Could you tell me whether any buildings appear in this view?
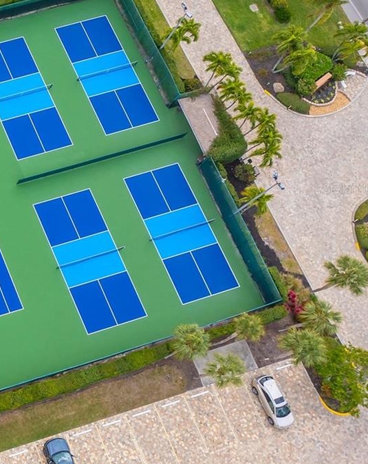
No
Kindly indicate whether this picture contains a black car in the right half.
No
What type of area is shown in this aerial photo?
sports ground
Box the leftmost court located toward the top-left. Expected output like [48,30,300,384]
[0,37,73,160]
